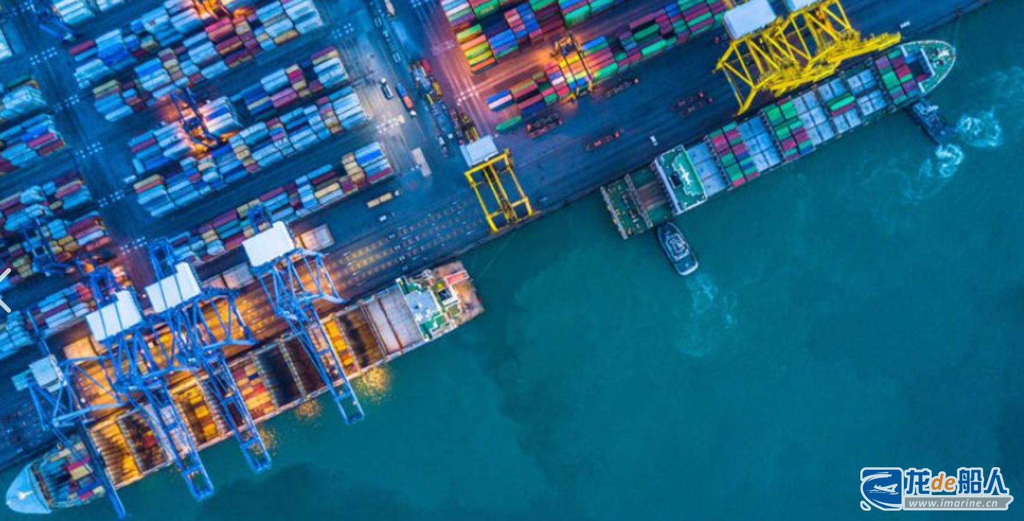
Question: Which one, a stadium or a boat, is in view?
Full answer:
The one in the frame is a boat.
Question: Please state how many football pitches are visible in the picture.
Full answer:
No football pitches are visible.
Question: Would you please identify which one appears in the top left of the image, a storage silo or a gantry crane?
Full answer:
The feature located in the top left of the image is a gantry crane.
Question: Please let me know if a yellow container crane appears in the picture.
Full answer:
Yes, there's a yellow container crane here.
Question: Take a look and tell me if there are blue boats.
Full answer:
Yes, this view includes a blue boat.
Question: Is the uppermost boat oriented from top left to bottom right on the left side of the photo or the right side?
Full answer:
The uppermost boat oriented from top left to bottom right appears in the right half of the scene.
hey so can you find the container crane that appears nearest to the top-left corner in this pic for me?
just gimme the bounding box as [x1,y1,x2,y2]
[26,0,93,49]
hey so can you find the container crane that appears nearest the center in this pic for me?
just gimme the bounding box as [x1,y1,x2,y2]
[451,99,541,232]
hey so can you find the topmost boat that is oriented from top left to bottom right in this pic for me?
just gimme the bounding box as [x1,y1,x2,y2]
[907,105,951,152]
